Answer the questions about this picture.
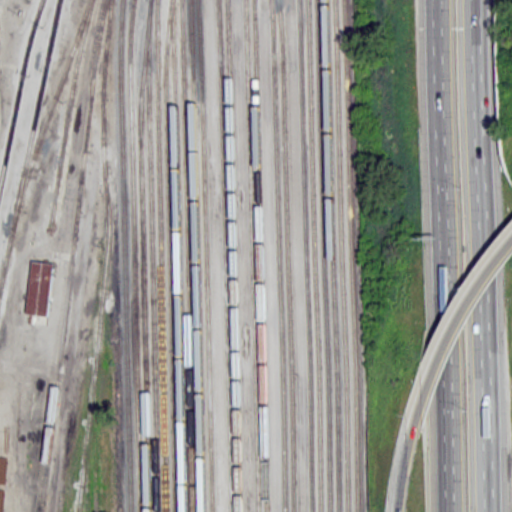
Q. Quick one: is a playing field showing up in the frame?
No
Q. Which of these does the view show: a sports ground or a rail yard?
rail yard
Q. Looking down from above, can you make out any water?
No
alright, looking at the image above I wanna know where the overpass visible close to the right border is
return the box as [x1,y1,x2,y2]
[381,226,512,512]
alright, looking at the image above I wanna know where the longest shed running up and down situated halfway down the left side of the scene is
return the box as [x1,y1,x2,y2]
[25,262,54,315]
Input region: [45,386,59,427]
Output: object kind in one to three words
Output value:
rail car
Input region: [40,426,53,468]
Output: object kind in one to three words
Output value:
rail car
